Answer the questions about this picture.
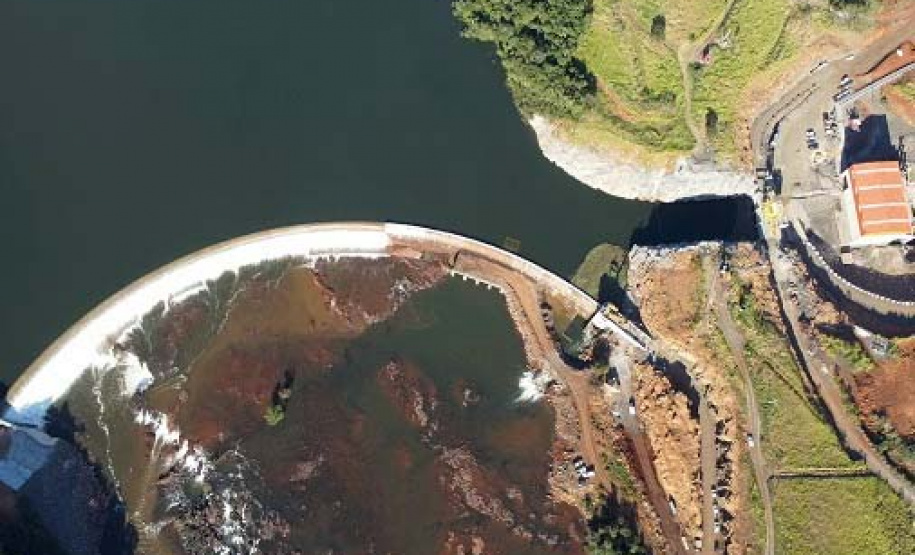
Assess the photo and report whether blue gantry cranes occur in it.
No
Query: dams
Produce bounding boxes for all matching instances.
[0,218,601,426]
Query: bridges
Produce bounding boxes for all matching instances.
[751,196,785,252]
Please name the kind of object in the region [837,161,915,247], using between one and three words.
building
